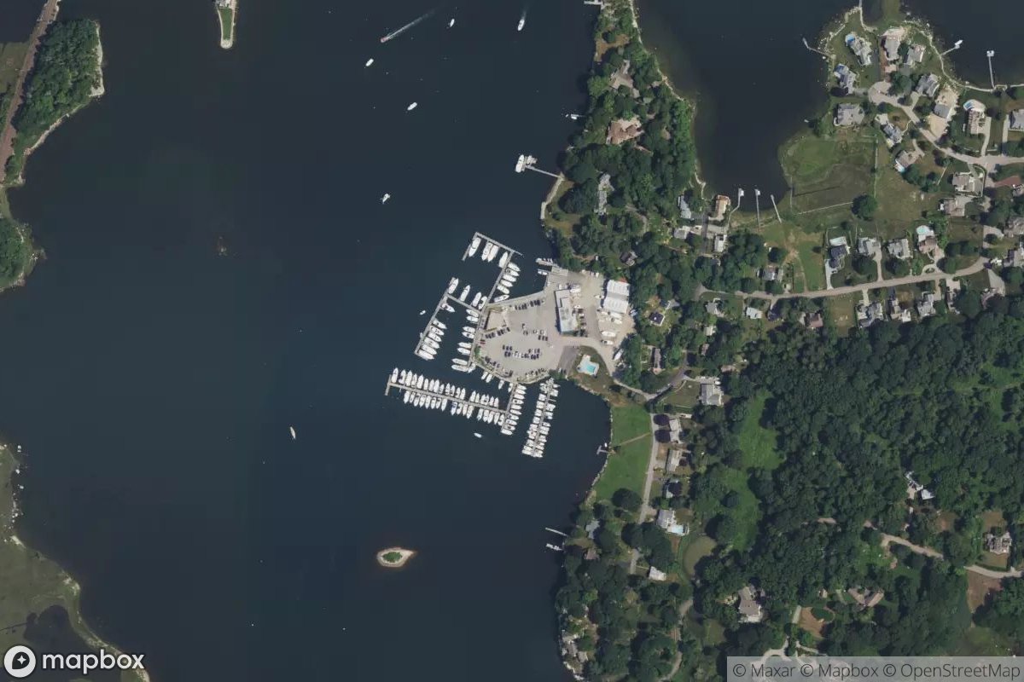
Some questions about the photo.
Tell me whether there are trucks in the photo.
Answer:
No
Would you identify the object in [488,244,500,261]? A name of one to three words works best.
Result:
boat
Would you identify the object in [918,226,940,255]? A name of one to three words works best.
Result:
house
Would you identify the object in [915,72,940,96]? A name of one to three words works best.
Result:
house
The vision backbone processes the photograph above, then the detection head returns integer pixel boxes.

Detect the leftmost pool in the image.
[577,355,599,375]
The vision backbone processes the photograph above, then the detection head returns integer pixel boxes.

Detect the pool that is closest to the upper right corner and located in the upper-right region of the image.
[963,99,986,111]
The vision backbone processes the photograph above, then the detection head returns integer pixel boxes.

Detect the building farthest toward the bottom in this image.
[562,635,588,663]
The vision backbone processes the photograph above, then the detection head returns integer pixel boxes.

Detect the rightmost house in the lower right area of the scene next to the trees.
[984,531,1011,553]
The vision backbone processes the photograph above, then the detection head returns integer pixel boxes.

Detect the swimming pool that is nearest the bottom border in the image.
[672,522,689,536]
